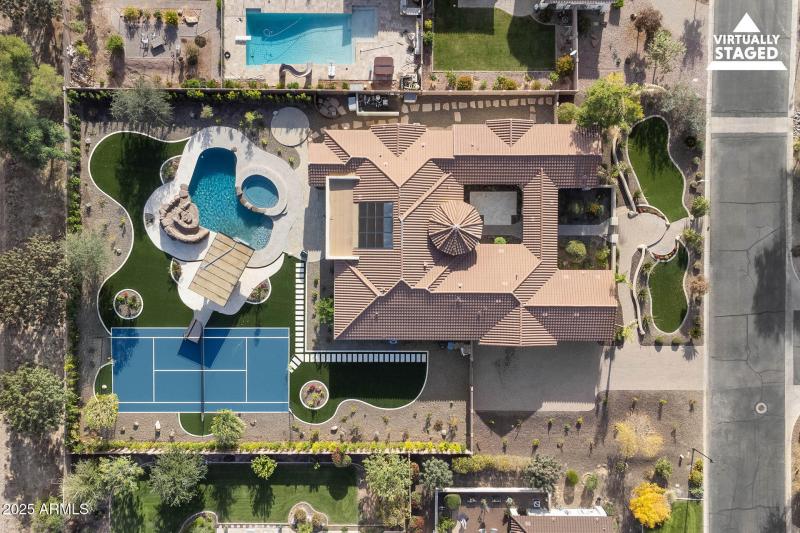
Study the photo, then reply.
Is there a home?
Yes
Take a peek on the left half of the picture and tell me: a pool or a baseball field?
pool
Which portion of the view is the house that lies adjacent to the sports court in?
center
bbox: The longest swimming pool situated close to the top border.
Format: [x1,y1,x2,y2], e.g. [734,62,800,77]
[245,5,379,66]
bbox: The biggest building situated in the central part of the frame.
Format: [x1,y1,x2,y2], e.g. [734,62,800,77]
[309,119,619,346]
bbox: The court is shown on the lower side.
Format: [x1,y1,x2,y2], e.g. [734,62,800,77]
[112,329,289,412]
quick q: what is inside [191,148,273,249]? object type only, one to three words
swimming pool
